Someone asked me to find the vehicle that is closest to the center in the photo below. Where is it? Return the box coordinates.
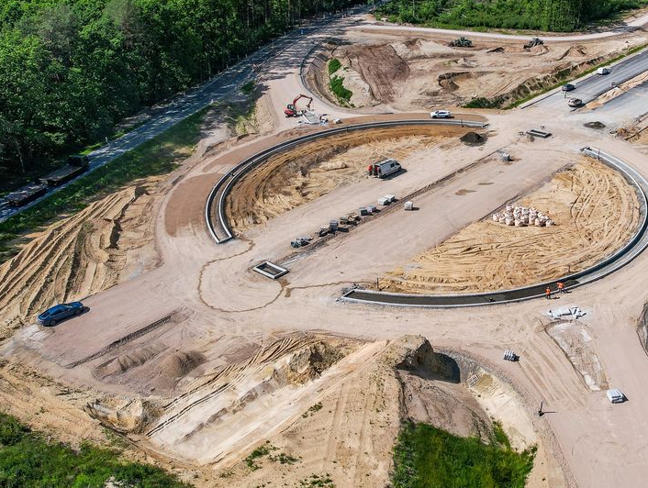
[365,154,405,178]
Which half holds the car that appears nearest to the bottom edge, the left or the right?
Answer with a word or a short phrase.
left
